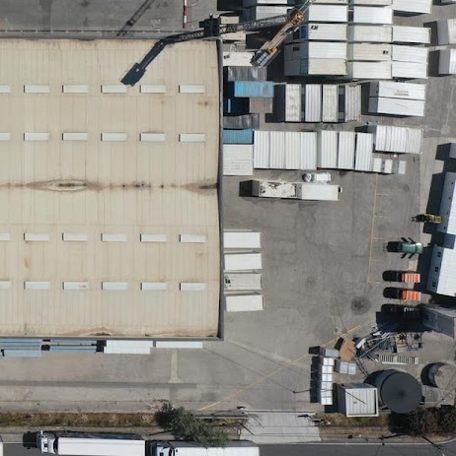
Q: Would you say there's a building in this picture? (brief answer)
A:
Yes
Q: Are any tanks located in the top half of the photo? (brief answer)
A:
No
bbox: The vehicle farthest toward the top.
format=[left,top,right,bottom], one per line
[297,170,331,184]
